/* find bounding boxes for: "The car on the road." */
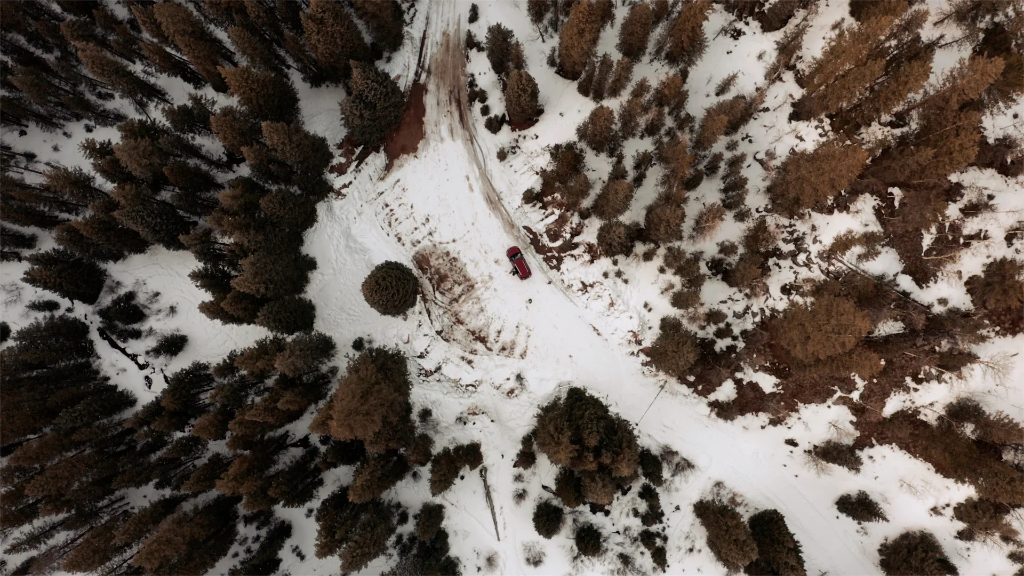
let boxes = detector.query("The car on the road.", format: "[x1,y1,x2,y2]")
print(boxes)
[508,245,531,281]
